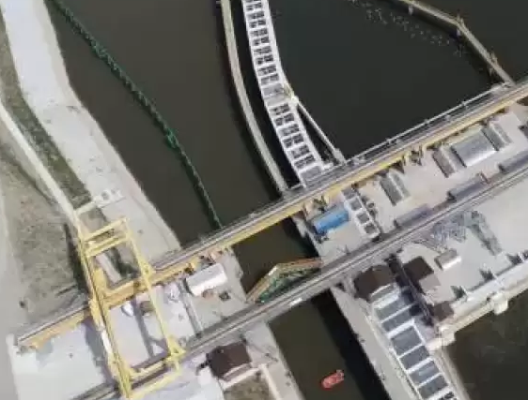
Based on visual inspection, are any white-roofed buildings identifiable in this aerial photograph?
Yes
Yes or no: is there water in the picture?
Yes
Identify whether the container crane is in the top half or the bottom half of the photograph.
bottom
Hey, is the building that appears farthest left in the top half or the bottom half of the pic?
bottom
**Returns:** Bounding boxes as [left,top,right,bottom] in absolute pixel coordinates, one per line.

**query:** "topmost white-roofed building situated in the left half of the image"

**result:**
[188,266,230,300]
